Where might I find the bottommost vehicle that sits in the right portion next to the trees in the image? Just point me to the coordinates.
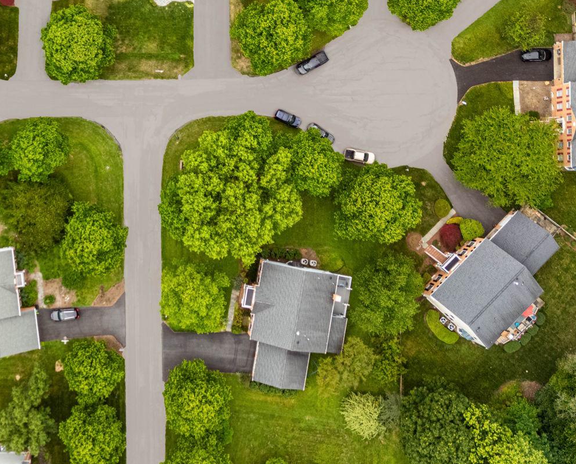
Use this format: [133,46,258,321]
[344,149,377,163]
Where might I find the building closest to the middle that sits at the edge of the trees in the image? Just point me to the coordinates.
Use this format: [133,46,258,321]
[238,260,354,388]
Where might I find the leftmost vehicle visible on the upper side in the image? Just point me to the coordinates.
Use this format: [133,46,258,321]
[273,108,302,127]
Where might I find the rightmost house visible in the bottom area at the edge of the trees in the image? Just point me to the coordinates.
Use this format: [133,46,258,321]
[422,211,557,350]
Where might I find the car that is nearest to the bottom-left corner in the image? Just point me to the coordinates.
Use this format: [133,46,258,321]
[50,309,78,322]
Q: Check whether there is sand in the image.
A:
No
